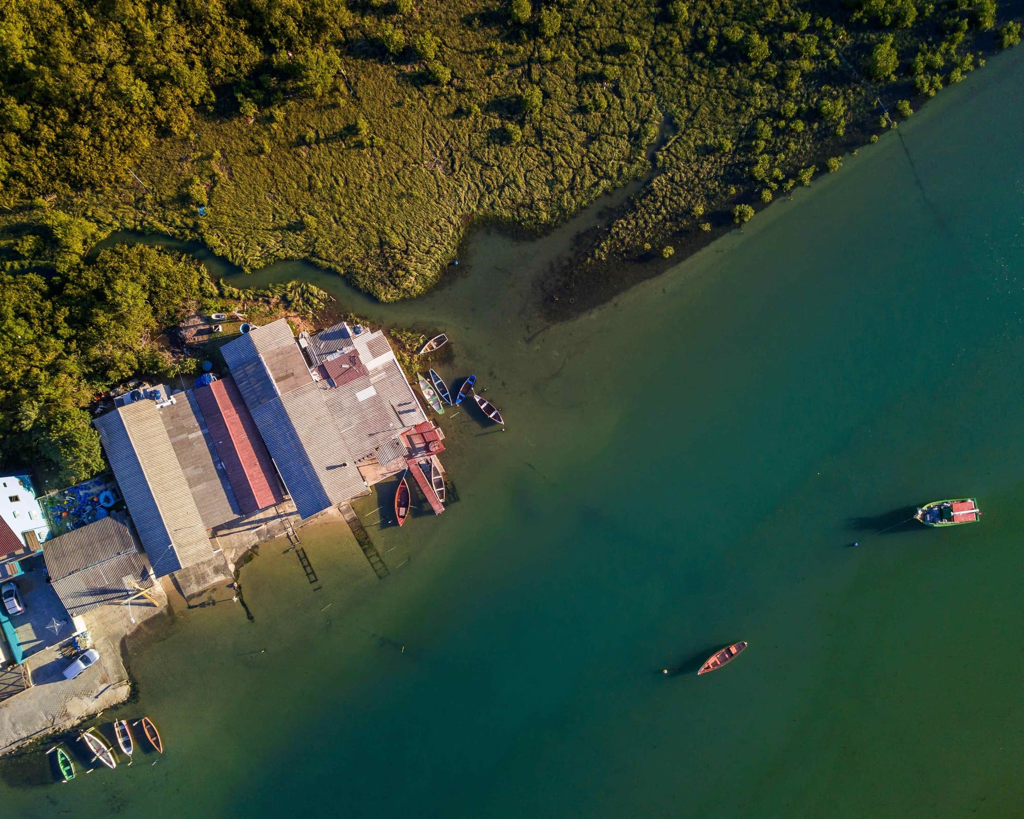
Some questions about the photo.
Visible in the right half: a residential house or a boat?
boat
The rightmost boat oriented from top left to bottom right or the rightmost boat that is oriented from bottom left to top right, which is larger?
the rightmost boat that is oriented from bottom left to top right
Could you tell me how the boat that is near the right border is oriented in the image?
horizontally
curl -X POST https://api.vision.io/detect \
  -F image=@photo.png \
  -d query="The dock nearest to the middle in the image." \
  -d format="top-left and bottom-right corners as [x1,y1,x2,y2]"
[407,459,444,517]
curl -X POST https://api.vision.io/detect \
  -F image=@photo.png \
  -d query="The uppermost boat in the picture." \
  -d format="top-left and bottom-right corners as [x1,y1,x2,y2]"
[420,334,447,353]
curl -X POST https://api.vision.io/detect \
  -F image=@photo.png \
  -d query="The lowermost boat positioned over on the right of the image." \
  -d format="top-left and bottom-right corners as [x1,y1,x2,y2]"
[697,640,749,675]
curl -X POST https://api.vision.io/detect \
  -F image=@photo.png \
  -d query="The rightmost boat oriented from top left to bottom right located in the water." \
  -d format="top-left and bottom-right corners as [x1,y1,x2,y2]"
[475,396,504,424]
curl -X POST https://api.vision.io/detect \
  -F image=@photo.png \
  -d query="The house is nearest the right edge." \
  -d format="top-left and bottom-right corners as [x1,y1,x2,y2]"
[308,321,430,486]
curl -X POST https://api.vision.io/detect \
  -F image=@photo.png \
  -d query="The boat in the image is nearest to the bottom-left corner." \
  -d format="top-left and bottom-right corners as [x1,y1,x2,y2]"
[56,747,75,781]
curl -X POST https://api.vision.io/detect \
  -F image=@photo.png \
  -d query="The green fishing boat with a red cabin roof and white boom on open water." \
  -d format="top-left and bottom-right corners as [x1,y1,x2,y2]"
[911,498,984,526]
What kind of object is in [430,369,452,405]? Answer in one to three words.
boat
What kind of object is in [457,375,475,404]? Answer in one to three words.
boat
